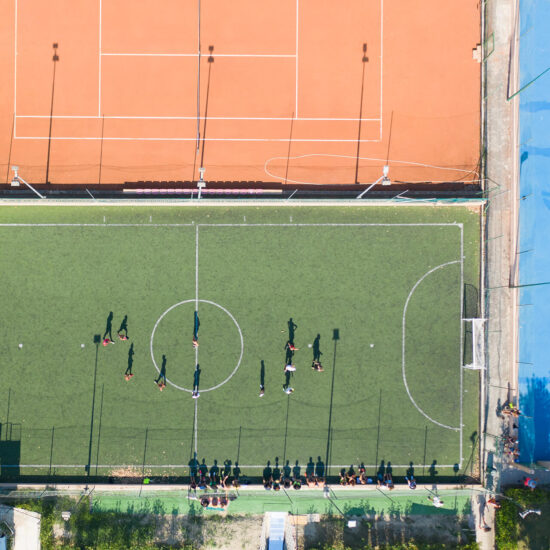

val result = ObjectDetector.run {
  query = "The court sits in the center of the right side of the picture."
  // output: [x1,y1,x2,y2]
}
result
[517,0,550,462]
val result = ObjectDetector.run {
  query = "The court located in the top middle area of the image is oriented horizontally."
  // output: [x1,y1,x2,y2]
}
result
[0,0,480,189]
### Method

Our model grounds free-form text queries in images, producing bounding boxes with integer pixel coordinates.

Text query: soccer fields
[0,205,480,483]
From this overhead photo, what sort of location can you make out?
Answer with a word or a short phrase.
sports ground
